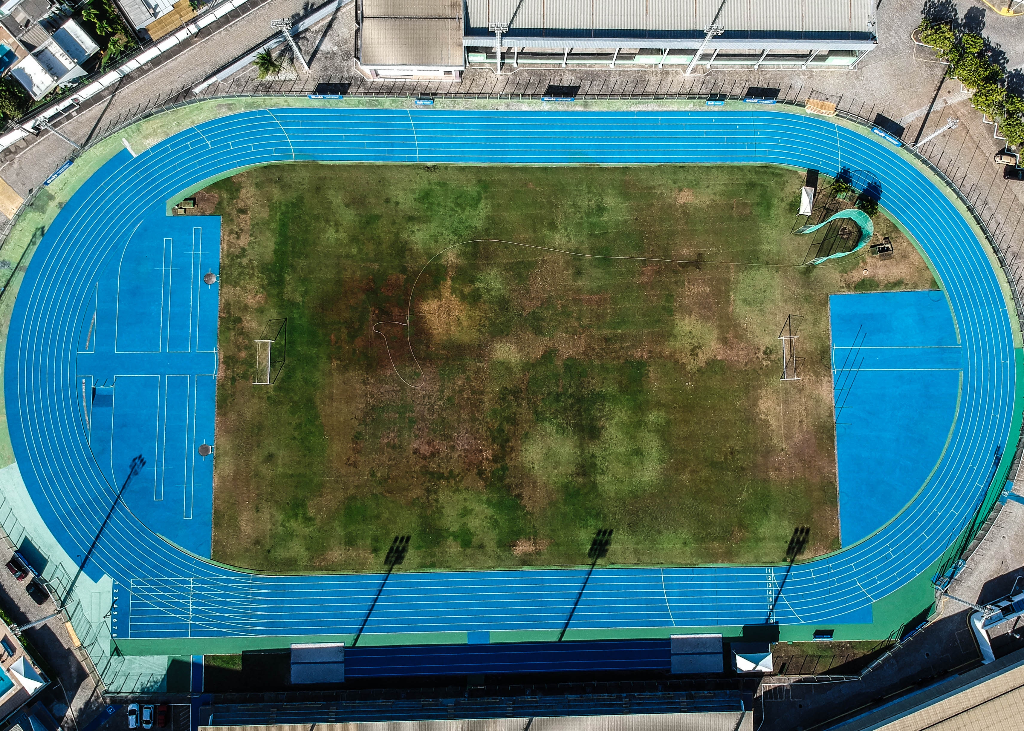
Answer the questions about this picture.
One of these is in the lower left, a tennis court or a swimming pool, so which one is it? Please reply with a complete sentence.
The one visible in the lower left is a swimming pool.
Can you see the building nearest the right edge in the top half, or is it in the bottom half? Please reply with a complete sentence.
It is in the bottom half that the building nearest the right edge appears.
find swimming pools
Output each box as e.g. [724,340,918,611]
[0,21,29,77]
[0,623,48,722]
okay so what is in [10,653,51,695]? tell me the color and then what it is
white tent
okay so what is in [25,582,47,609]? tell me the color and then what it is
black car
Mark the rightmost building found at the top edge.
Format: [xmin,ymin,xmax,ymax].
[355,0,465,80]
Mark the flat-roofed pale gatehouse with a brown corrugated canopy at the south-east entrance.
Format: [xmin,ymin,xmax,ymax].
[973,587,1024,639]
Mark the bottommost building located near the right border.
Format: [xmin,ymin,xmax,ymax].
[829,651,1024,731]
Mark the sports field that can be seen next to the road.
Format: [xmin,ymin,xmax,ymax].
[177,165,940,572]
